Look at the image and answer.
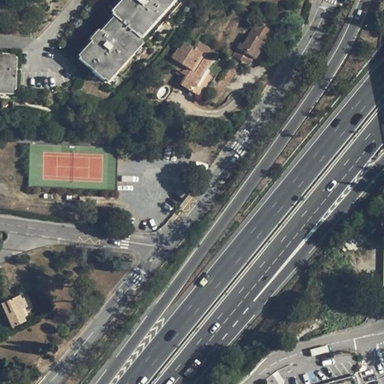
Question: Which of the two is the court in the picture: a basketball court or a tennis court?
tennis court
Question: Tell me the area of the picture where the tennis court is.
left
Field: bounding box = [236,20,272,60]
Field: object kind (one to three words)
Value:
house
